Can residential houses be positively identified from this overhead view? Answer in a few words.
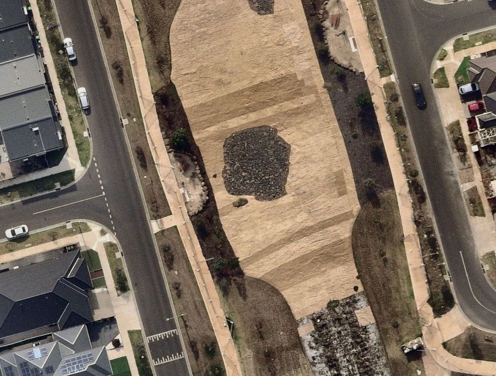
Yes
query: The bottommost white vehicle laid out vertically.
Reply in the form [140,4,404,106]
[77,87,89,110]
